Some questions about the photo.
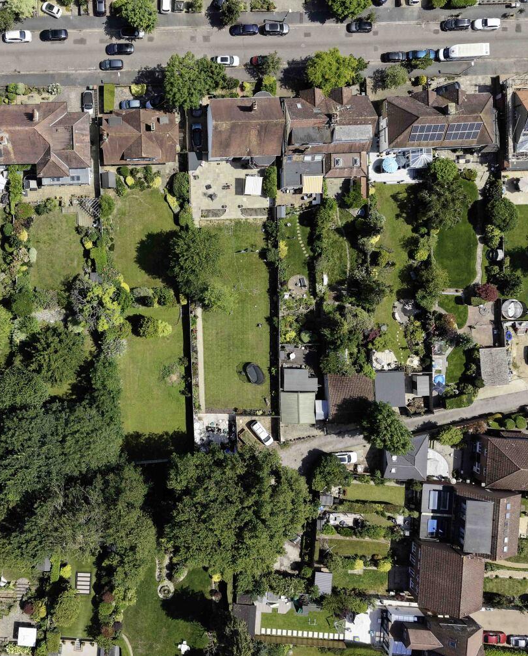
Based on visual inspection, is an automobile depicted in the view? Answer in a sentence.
Yes, the photo shows an automobile.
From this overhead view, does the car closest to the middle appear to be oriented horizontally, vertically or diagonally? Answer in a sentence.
What the image shows is the car closest to the middle lying diagonally.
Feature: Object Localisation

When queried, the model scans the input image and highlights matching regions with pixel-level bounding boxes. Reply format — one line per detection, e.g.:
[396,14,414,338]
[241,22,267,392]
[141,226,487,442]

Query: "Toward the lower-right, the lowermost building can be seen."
[381,600,483,656]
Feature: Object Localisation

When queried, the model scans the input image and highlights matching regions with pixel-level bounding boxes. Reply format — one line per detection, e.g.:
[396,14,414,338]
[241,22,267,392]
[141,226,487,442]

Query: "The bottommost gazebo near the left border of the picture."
[18,624,37,647]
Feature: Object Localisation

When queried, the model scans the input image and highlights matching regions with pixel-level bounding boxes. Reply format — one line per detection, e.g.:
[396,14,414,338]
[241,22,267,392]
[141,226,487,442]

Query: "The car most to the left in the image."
[2,28,31,44]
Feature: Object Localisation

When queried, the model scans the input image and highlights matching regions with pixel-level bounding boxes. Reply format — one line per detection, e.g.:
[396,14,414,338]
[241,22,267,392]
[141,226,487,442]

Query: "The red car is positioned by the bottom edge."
[482,631,506,643]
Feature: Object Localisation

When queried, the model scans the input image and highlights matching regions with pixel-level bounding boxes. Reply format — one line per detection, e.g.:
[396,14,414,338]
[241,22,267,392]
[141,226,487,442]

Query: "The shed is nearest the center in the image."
[283,368,317,390]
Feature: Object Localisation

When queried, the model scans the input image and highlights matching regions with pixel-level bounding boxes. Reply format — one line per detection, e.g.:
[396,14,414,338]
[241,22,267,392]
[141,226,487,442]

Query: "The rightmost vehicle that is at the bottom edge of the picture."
[509,634,528,646]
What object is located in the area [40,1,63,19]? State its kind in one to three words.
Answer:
car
